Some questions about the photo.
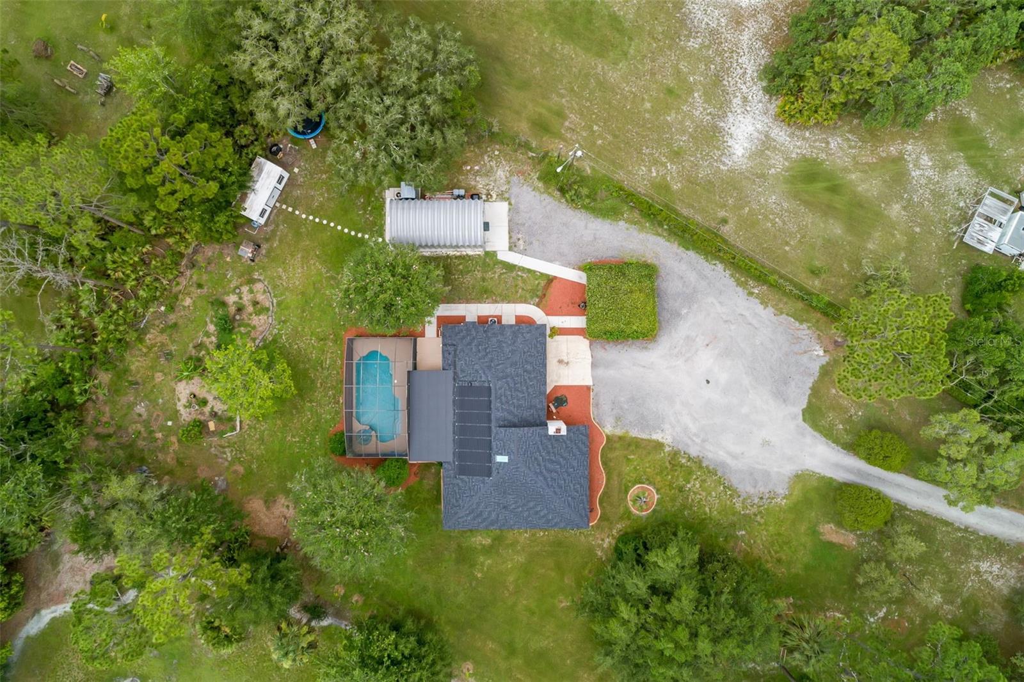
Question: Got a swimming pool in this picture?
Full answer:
Yes, the image includes a swimming pool.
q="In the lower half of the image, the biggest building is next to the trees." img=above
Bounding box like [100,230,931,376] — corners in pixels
[407,322,590,529]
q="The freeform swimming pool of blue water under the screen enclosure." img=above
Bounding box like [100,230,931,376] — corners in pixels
[354,350,402,444]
